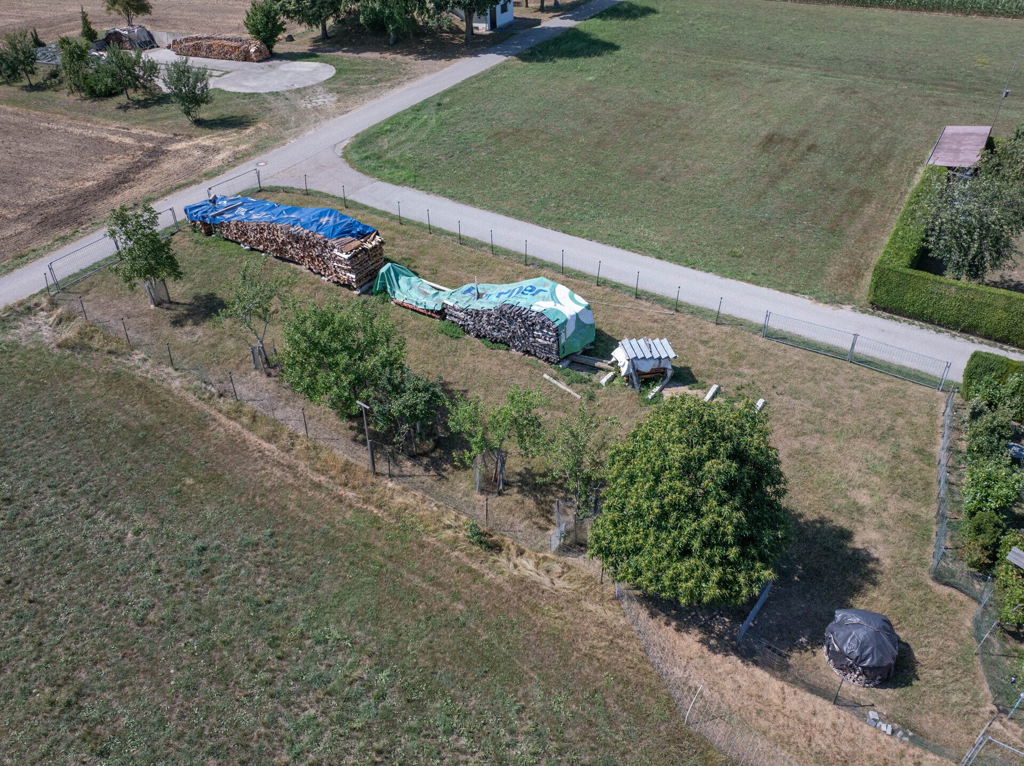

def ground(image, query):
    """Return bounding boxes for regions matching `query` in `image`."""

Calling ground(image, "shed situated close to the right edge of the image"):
[918,126,991,192]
